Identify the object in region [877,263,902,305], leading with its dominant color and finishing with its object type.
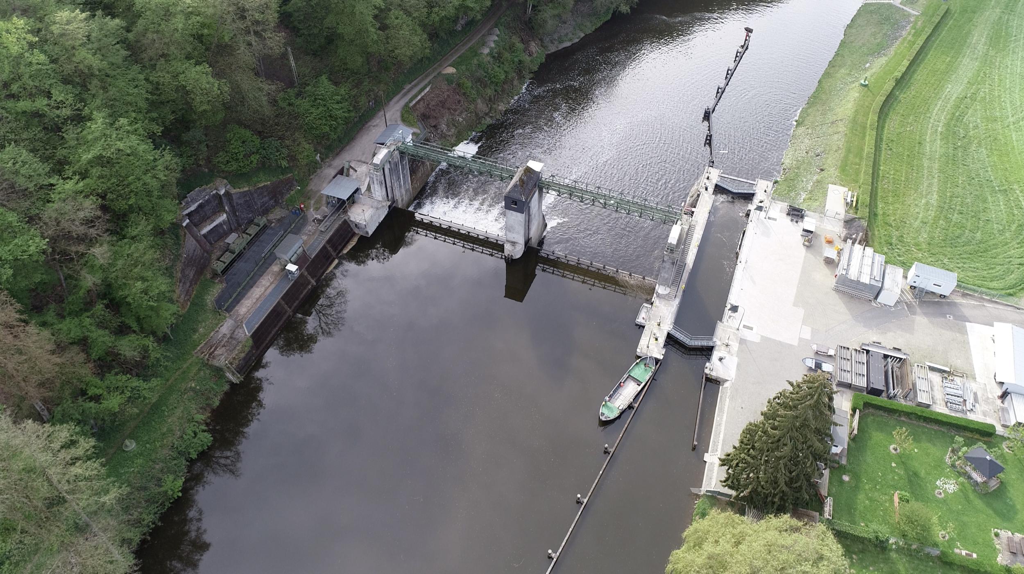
white shipping container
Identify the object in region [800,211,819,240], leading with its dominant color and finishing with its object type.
white vehicle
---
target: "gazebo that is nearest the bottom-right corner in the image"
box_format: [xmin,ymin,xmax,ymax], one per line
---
[958,448,1005,491]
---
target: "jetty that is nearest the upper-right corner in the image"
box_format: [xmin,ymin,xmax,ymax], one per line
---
[699,37,751,168]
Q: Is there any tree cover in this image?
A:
Yes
